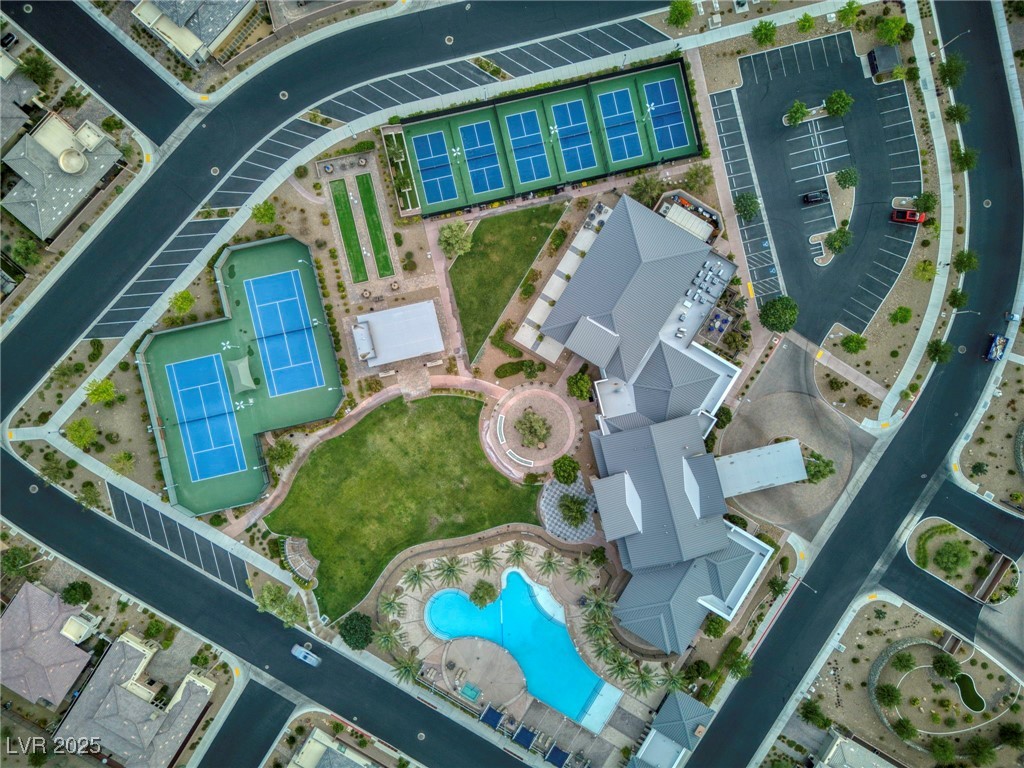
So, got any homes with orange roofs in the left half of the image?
No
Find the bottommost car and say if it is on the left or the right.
left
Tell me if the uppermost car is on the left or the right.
left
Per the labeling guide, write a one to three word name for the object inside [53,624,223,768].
house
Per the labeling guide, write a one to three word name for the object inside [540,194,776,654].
building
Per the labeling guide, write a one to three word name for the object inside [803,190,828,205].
car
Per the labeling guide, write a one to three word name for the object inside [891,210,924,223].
vehicle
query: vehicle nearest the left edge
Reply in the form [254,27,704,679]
[0,28,20,52]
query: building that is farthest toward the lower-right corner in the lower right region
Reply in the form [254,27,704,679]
[810,722,891,768]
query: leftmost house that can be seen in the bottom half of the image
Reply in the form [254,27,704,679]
[0,581,112,713]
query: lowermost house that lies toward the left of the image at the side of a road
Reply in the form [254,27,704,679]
[295,720,376,768]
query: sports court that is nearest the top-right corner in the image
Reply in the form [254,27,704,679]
[635,64,697,157]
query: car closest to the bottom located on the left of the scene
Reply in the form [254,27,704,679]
[292,645,320,667]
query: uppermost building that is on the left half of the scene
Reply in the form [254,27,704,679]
[131,0,261,76]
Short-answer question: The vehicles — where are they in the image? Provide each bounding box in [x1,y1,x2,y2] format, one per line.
[0,28,20,52]
[1001,314,1020,321]
[891,210,924,223]
[803,190,828,205]
[292,645,320,667]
